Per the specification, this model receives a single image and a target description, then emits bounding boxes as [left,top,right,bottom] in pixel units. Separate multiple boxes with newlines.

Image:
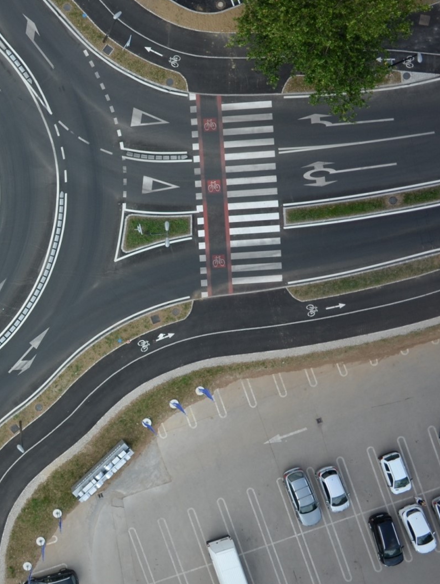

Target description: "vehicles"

[394,504,437,555]
[361,509,407,567]
[425,492,440,529]
[311,461,352,513]
[376,446,412,495]
[279,467,322,524]
[23,567,79,584]
[201,532,248,584]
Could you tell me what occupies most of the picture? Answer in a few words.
paved ground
